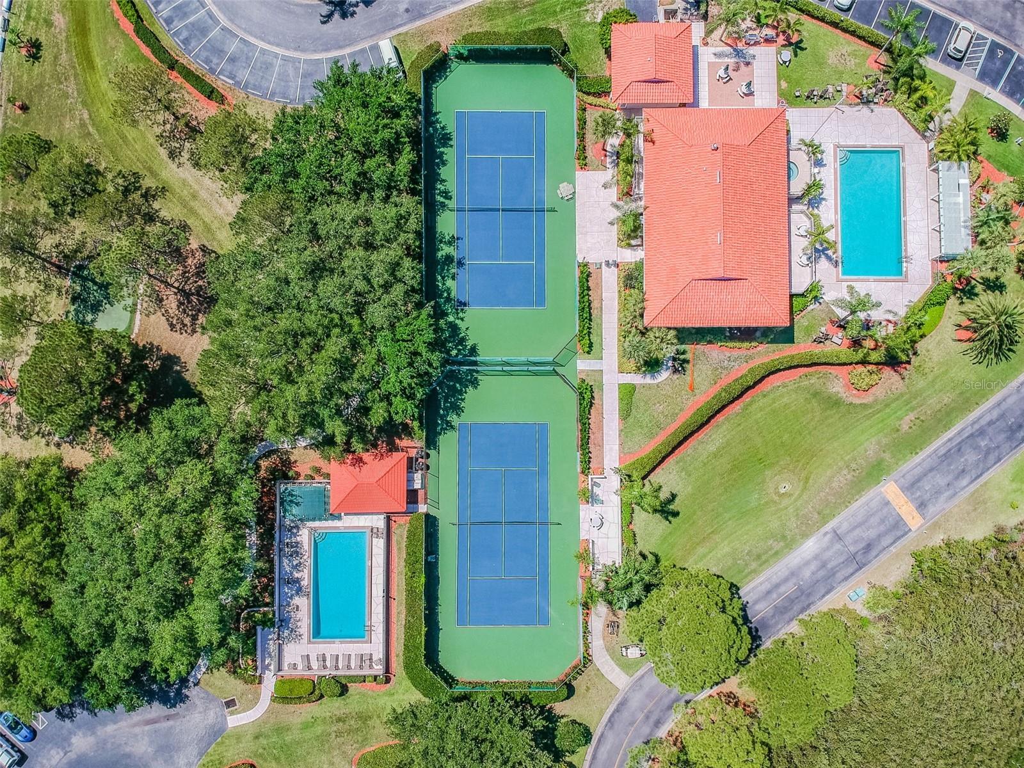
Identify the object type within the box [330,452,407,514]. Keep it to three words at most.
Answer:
building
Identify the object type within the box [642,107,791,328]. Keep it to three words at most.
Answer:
building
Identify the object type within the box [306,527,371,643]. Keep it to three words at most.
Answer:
swimming pool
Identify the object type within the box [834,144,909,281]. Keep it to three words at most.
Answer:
swimming pool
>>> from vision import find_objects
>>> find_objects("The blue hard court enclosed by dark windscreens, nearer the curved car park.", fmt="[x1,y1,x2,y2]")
[425,57,577,365]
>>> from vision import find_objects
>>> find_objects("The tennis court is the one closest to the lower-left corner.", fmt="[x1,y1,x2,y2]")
[428,365,580,681]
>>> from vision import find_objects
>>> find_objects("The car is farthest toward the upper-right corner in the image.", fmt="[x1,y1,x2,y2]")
[944,20,974,61]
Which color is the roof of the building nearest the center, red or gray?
red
